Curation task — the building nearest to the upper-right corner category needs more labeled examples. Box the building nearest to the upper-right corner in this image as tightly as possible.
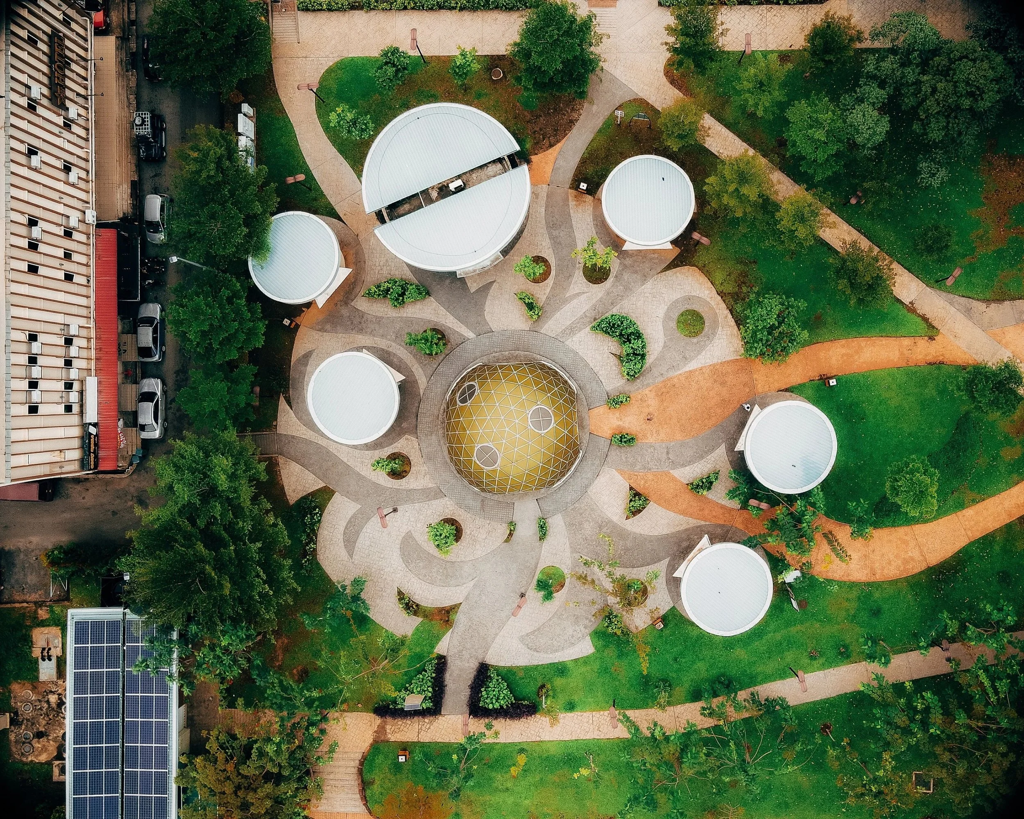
[602,154,694,250]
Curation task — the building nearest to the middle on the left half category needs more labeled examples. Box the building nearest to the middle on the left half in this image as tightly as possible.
[307,349,405,445]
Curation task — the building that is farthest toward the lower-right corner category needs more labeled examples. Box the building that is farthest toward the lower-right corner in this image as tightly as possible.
[672,535,773,636]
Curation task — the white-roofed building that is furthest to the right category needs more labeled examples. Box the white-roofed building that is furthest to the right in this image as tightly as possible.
[735,401,837,494]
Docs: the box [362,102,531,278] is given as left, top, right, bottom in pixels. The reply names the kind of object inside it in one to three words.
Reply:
building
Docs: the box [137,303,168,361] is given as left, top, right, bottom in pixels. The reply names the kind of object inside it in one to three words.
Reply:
car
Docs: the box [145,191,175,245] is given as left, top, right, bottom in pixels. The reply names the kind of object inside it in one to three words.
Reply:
car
